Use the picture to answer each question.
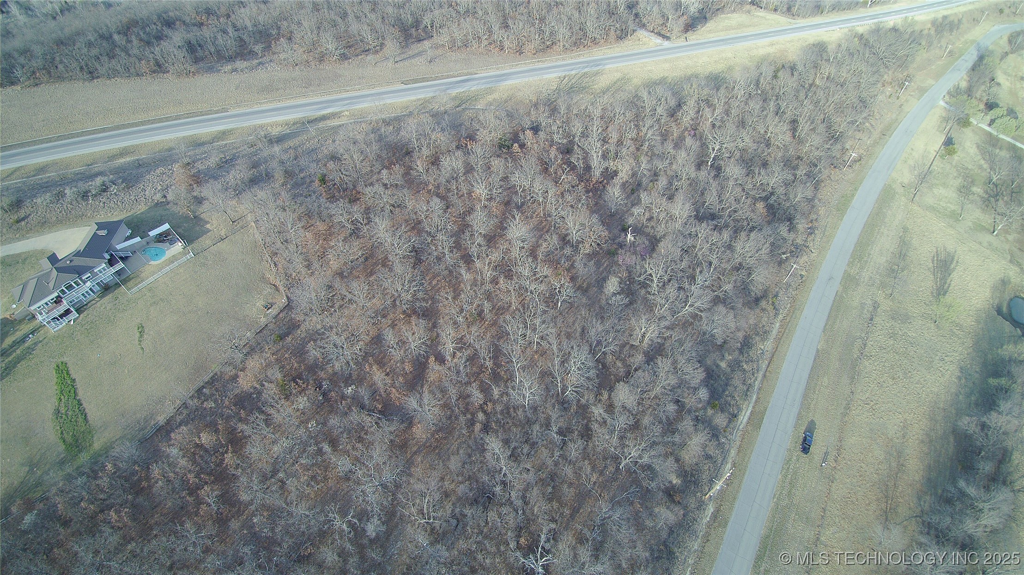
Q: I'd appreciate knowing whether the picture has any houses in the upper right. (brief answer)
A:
No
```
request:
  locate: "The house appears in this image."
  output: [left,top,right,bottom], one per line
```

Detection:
[1,221,136,333]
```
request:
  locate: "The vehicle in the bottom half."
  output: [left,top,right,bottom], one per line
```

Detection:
[797,431,814,458]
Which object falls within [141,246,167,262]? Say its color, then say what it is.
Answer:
blue swimming pool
